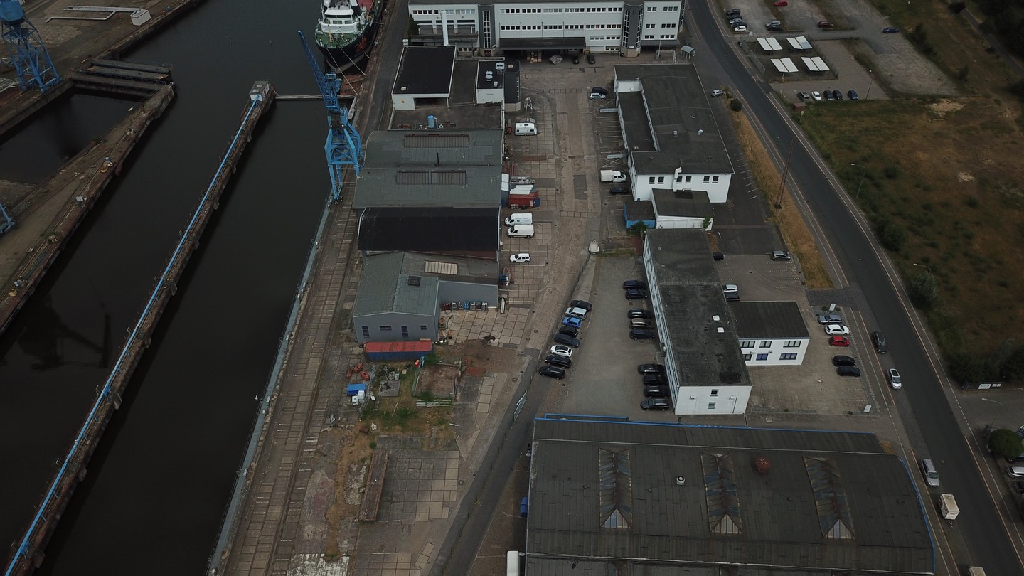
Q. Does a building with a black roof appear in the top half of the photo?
Yes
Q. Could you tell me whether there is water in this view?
Yes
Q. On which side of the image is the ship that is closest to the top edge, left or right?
left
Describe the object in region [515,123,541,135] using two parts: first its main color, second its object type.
white vehicle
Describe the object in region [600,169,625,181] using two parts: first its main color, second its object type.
white vehicle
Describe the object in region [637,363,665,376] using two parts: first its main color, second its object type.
black vehicle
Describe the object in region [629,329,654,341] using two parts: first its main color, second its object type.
black vehicle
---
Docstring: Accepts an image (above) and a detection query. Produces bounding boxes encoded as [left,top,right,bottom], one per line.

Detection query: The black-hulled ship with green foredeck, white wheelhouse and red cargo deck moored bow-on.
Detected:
[315,0,385,71]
